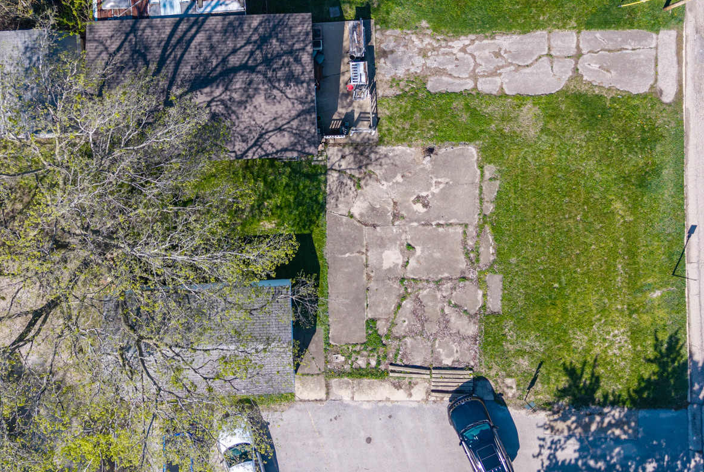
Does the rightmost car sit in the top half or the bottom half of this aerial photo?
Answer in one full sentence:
The rightmost car is in the bottom half of the image.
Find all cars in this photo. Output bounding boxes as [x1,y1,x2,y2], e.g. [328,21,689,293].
[221,418,262,472]
[453,393,513,472]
